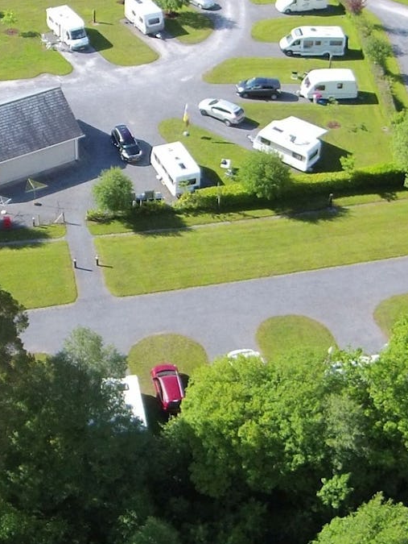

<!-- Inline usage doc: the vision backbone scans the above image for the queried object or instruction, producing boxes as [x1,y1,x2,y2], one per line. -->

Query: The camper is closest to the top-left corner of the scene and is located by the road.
[48,1,88,44]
